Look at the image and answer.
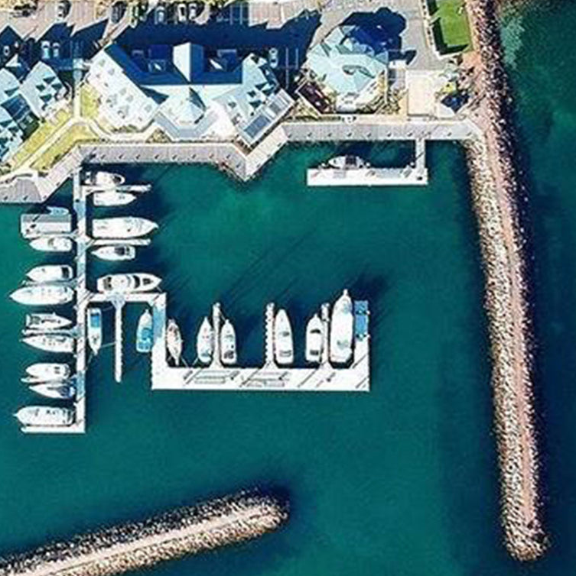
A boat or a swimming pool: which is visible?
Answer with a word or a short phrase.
boat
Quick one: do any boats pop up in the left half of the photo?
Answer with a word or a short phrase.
Yes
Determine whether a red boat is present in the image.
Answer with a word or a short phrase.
No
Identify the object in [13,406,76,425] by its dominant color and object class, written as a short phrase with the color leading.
white boat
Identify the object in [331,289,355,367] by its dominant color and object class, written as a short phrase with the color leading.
white boat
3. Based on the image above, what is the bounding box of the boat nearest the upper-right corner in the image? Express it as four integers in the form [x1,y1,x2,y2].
[327,155,368,168]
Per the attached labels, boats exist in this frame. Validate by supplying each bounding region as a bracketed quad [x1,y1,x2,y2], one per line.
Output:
[11,284,76,305]
[221,319,238,367]
[136,310,153,355]
[29,385,75,399]
[13,406,76,425]
[26,265,75,282]
[88,216,159,238]
[45,207,68,214]
[91,191,136,207]
[197,317,214,366]
[306,313,324,366]
[20,336,74,353]
[331,289,355,367]
[276,308,295,367]
[93,274,161,293]
[327,155,368,168]
[26,363,73,380]
[88,307,103,355]
[22,214,72,238]
[30,238,75,252]
[167,319,185,362]
[92,246,139,259]
[26,312,72,330]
